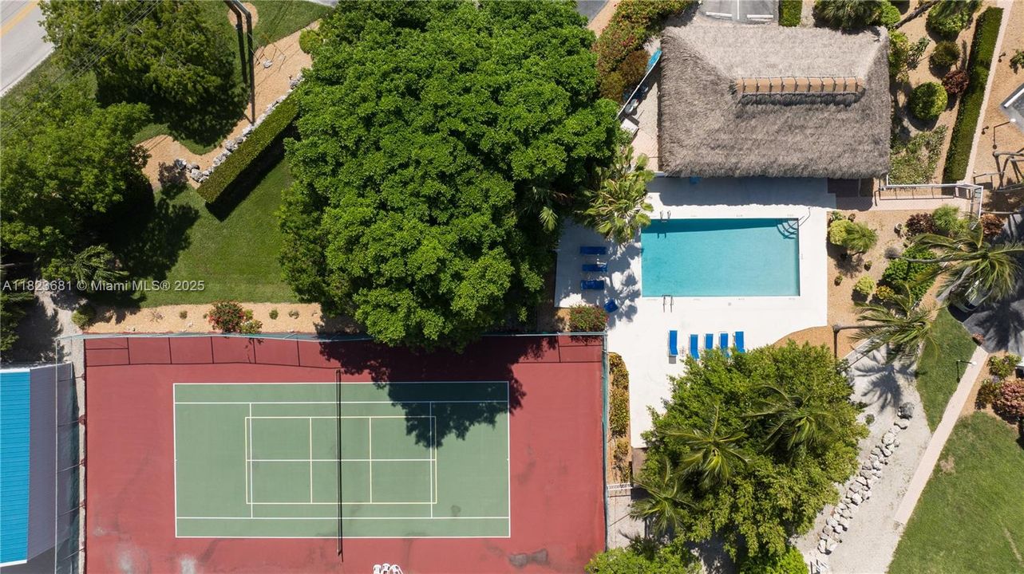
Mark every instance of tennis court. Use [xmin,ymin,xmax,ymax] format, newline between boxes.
[84,331,606,574]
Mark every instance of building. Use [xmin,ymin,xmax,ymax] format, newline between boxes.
[656,21,894,179]
[0,366,70,565]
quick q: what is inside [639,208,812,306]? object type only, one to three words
swimming pool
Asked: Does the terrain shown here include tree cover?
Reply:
Yes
